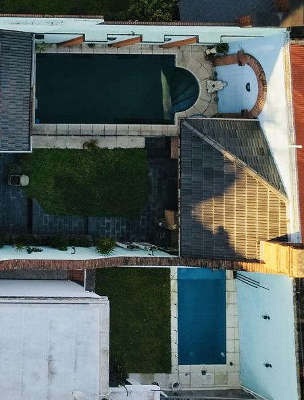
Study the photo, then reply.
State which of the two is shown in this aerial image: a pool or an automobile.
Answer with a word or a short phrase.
pool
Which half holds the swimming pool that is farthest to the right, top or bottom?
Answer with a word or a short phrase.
bottom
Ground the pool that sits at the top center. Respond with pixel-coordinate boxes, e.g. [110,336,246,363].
[35,42,213,147]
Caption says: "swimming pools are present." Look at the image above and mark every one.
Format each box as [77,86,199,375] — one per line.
[128,267,241,388]
[35,42,213,147]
